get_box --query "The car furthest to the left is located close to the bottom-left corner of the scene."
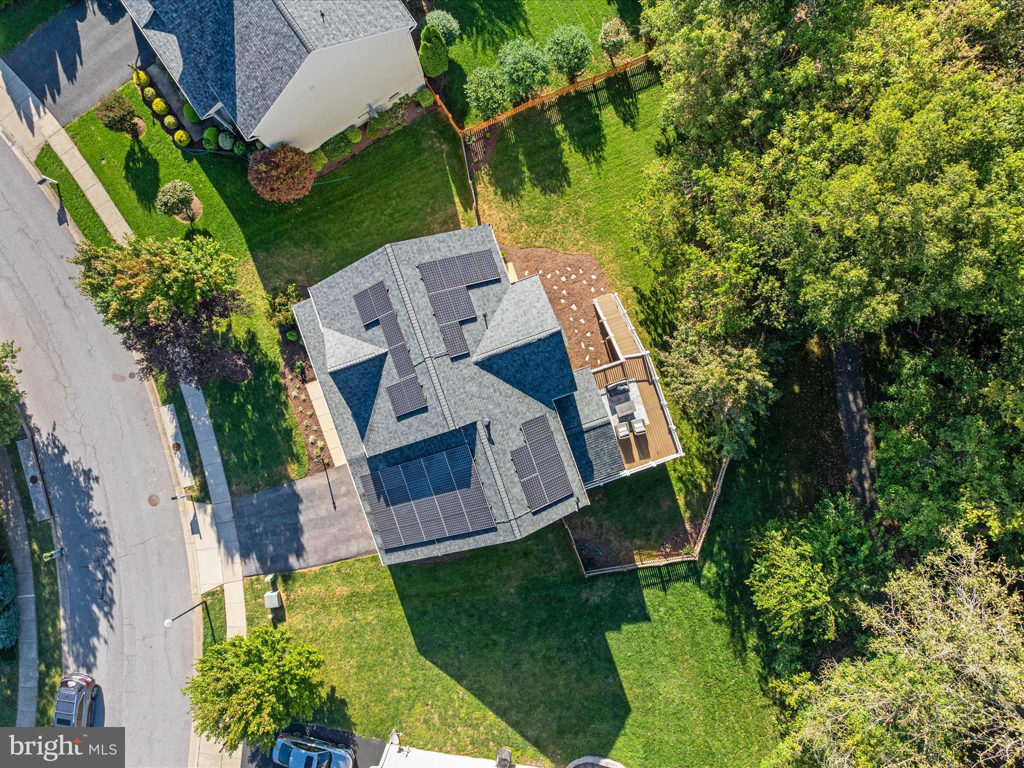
[52,670,101,753]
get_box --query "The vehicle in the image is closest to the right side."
[271,730,356,768]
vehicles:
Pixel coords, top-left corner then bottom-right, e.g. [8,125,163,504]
[271,730,356,768]
[52,670,101,753]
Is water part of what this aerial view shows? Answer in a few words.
No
